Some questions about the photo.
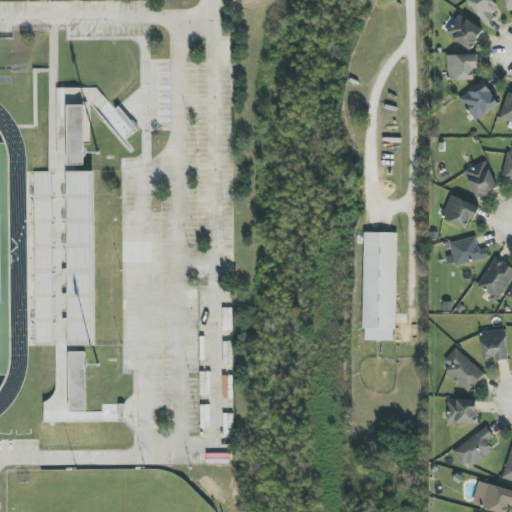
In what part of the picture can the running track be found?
left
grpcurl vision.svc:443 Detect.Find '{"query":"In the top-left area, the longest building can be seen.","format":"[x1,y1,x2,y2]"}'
[65,104,90,165]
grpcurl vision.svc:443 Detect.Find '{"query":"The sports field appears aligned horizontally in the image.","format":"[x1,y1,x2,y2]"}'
[6,469,210,512]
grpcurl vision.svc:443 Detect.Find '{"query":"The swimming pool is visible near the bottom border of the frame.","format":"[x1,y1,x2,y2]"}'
[464,480,478,502]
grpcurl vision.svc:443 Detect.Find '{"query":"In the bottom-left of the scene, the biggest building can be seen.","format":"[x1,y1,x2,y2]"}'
[66,352,86,411]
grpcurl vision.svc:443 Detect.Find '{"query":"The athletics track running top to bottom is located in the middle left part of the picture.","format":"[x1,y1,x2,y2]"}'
[0,104,26,416]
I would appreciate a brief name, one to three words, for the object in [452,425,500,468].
house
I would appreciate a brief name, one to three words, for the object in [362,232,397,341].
barn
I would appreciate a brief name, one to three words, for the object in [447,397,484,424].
house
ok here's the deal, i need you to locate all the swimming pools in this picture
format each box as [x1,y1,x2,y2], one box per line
[464,480,478,502]
[491,316,502,327]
